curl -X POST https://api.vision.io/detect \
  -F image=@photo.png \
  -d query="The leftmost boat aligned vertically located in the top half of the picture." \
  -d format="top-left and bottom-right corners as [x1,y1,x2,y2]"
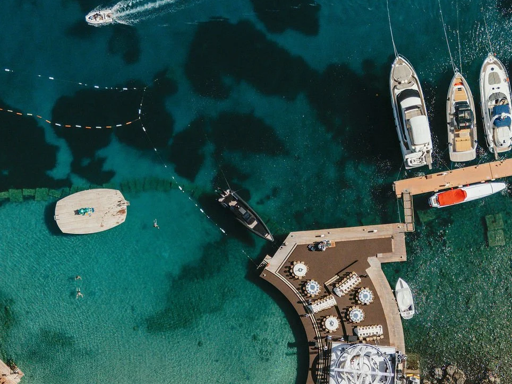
[389,55,432,178]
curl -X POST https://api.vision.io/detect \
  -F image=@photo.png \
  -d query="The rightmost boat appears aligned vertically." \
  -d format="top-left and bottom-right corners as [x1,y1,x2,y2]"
[478,52,512,163]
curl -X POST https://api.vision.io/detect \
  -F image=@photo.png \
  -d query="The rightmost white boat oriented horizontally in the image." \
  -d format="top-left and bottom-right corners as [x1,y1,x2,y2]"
[424,181,507,210]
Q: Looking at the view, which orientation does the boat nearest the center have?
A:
at an angle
